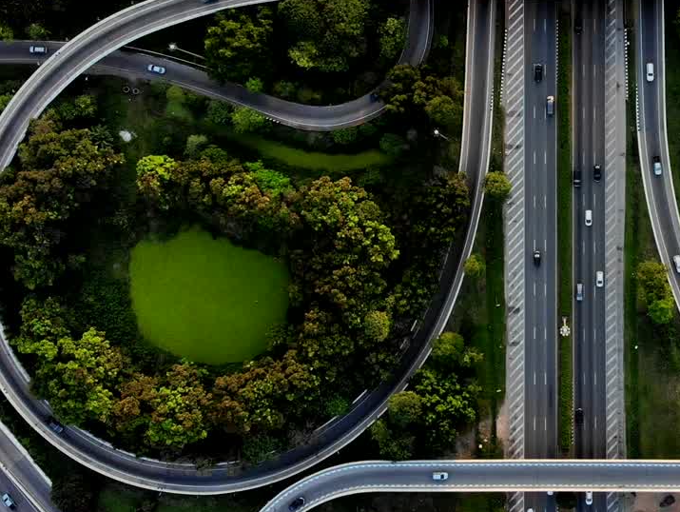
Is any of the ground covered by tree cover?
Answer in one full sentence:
Yes, there's tree cover in this view.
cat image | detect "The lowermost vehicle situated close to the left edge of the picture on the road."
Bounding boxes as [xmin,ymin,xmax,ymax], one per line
[1,494,17,511]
